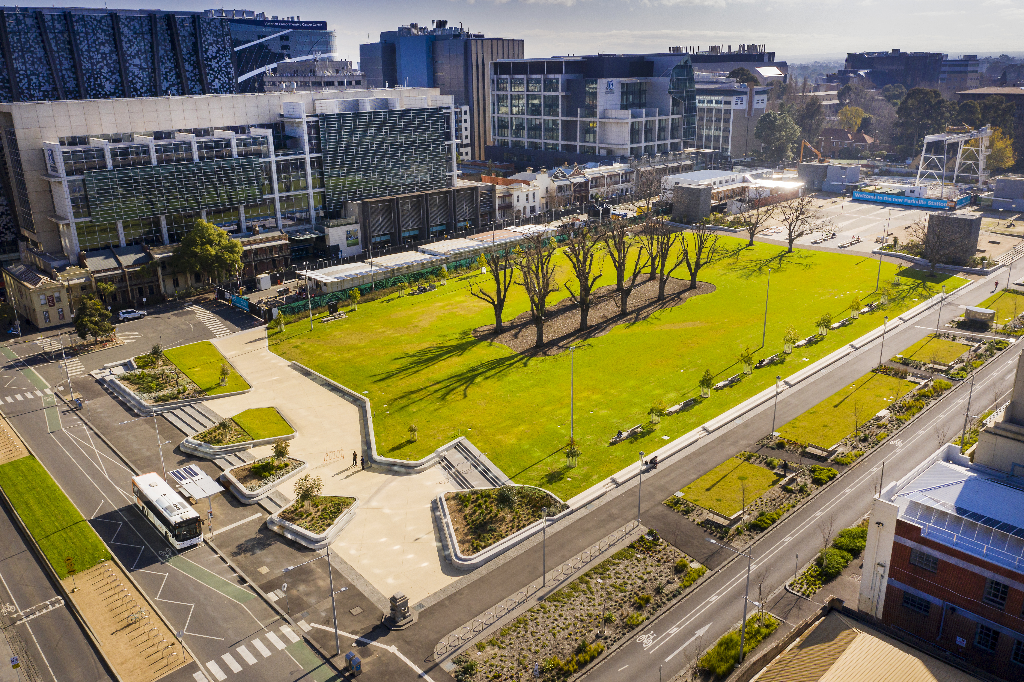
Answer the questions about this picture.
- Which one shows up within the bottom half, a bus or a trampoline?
bus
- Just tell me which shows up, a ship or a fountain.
fountain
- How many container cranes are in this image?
1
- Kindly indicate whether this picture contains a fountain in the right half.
No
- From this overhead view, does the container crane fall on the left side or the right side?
right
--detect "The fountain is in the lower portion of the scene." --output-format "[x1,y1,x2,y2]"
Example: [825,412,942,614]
[379,583,420,632]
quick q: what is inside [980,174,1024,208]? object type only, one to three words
house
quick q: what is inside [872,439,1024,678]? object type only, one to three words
building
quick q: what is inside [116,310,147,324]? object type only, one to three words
car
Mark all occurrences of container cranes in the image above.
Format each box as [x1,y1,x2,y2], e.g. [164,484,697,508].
[917,122,998,197]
